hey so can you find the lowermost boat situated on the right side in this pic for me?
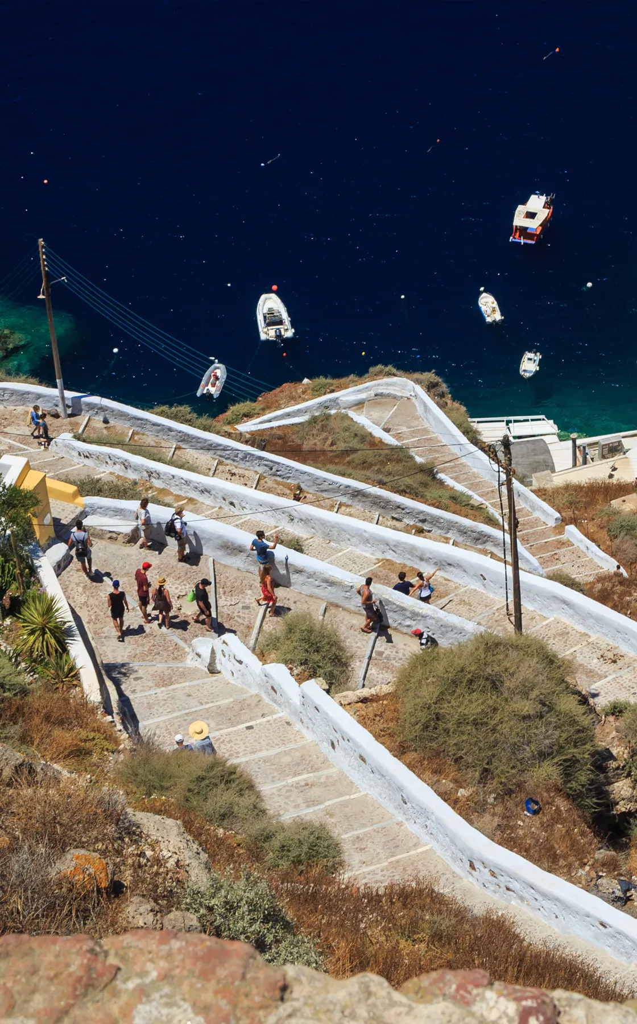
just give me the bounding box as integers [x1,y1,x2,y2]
[517,342,548,382]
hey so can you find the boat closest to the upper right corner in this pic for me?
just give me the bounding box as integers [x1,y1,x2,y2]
[508,181,563,248]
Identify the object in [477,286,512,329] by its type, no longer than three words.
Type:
boat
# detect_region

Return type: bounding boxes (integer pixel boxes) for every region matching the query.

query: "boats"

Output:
[508,181,563,248]
[254,291,297,348]
[196,362,227,403]
[517,342,548,382]
[477,286,512,329]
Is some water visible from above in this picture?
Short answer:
Yes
